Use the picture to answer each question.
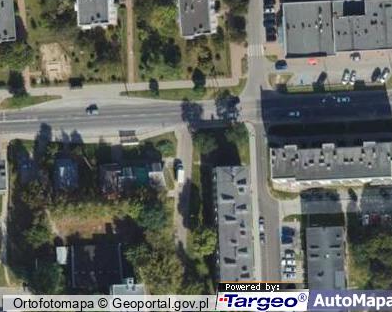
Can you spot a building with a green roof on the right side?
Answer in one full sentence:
No, there's no building with a green roof to be seen on the right side.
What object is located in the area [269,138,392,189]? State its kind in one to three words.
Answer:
building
